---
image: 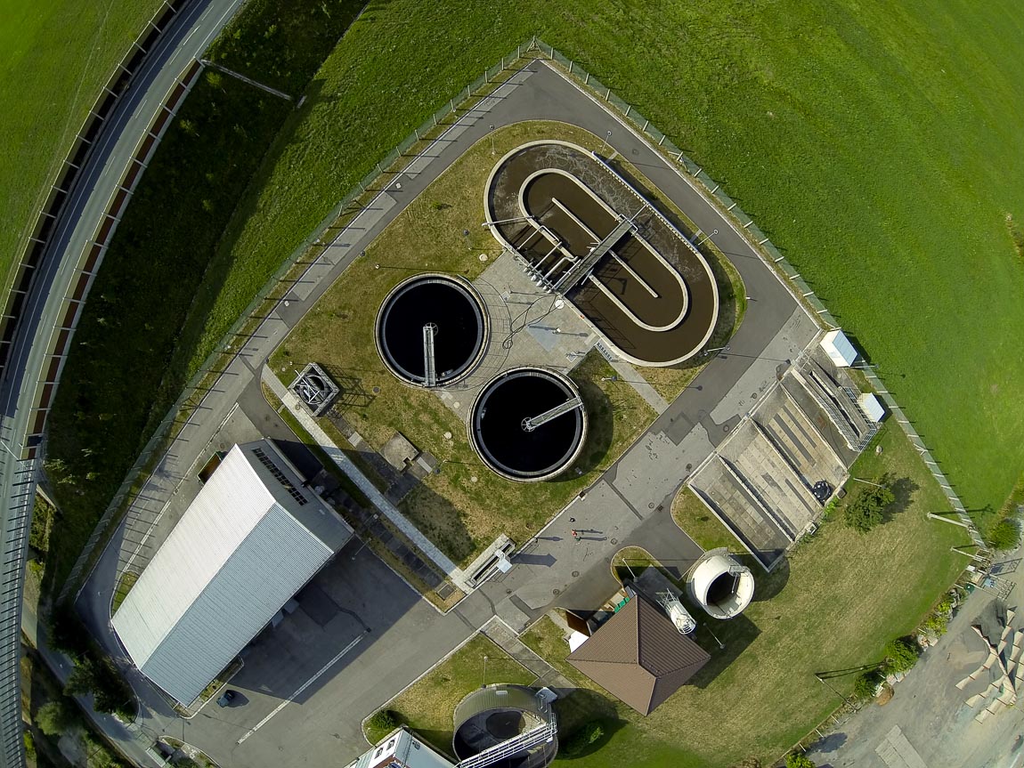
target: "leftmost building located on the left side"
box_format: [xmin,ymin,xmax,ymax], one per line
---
[109,439,349,708]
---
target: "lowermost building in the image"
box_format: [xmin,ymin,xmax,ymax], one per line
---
[361,718,453,768]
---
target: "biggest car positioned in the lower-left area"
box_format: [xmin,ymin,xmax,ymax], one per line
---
[210,689,235,712]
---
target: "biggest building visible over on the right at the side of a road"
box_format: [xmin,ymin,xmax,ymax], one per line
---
[565,594,711,718]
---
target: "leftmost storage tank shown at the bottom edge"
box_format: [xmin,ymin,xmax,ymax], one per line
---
[448,674,559,768]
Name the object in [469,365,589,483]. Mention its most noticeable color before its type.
black storage tank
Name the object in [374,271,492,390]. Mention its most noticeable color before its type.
black storage tank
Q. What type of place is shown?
industrial area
